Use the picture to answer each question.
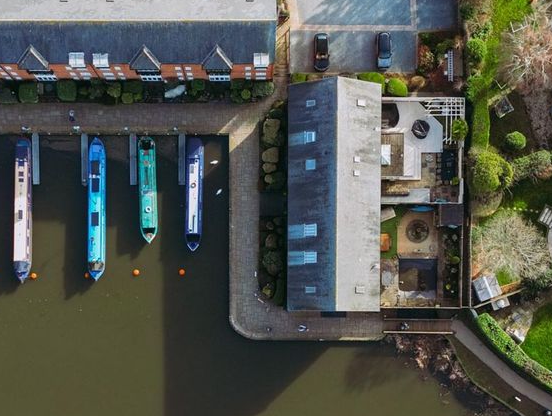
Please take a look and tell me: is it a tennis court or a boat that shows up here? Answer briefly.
boat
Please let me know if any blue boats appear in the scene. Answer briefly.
Yes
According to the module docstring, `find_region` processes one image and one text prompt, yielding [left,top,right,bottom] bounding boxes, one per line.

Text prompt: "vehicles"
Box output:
[376,30,394,67]
[314,33,331,69]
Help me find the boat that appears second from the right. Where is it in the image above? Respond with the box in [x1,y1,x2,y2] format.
[138,136,157,245]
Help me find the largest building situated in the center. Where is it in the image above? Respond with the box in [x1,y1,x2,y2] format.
[283,78,383,312]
